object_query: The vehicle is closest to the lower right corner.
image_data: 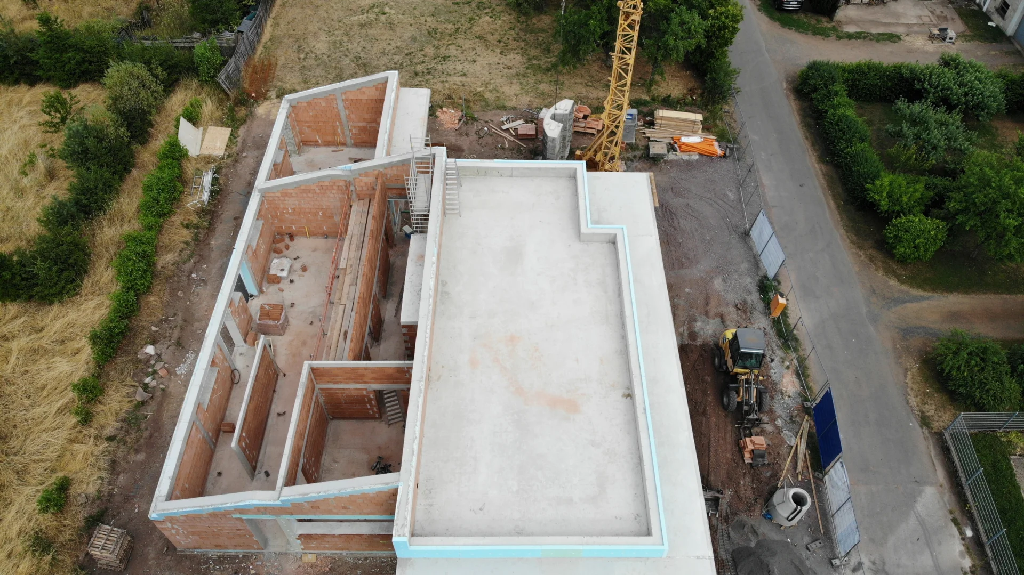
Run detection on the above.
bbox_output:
[710,326,777,444]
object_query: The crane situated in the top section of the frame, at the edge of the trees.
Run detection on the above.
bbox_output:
[570,0,647,173]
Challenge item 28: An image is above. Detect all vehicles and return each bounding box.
[772,0,807,7]
[710,326,777,444]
